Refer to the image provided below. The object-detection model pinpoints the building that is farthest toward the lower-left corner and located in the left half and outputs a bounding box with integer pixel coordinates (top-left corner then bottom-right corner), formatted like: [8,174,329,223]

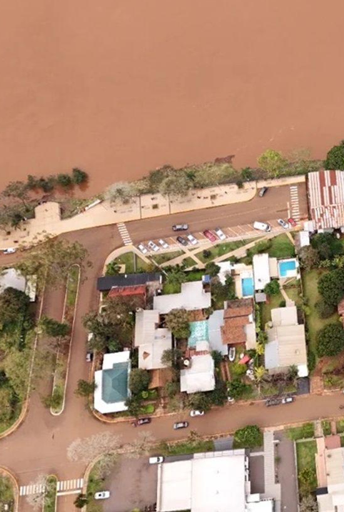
[94,350,133,415]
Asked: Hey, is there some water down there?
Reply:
Yes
